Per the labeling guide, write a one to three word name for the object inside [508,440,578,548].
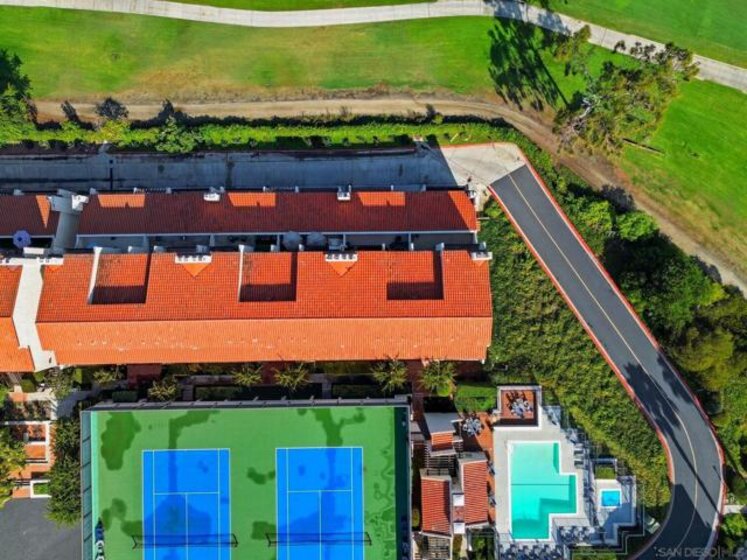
swimming pool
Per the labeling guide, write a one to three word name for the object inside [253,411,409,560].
tennis court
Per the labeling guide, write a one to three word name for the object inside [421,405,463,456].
building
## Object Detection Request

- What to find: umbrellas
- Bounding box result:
[15,231,44,249]
[281,234,303,252]
[305,234,327,251]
